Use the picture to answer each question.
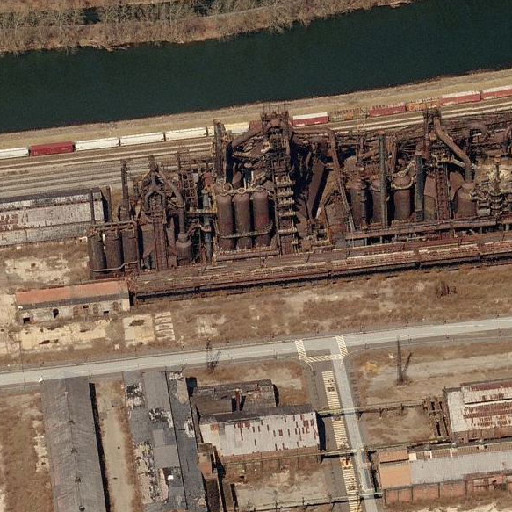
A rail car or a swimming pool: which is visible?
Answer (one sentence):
Looking from above, you can make out a rail car.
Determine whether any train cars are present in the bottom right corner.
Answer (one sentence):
No, no train car can be made out in the bottom right corner.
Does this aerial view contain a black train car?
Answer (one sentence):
No, I can see no black train car in this picture.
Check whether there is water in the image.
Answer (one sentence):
Yes, water shows up in the scene.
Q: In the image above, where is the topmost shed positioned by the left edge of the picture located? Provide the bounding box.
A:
[0,186,104,249]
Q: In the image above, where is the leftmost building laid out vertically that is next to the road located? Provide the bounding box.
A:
[43,373,109,512]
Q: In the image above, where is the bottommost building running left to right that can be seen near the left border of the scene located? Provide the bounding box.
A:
[15,275,130,324]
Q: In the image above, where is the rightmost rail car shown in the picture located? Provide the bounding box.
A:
[480,82,512,97]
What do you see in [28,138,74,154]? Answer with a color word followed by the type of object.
red rail car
